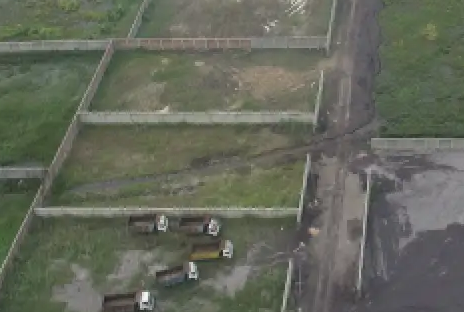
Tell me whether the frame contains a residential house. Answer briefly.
No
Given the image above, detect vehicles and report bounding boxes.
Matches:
[123,212,169,234]
[151,257,199,285]
[187,236,234,260]
[175,213,221,237]
[97,288,157,312]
